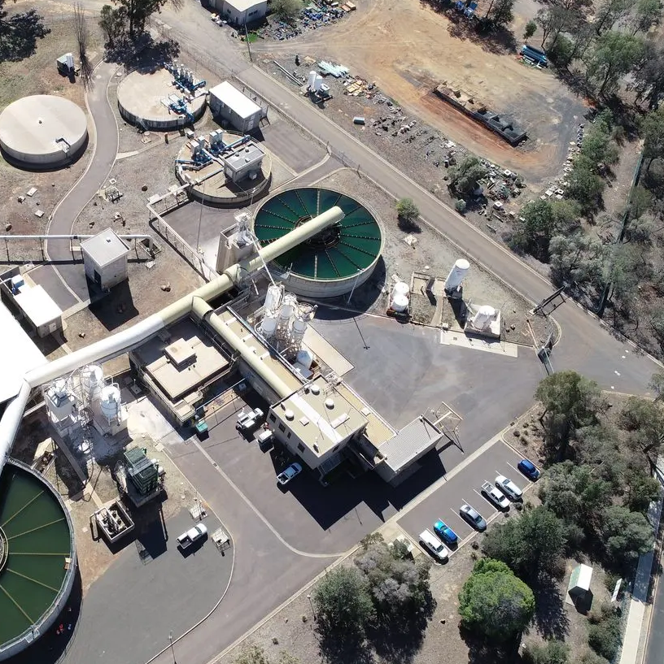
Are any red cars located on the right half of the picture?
No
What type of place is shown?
industrial area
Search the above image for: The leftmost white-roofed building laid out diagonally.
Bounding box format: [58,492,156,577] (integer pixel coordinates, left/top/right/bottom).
[0,266,62,338]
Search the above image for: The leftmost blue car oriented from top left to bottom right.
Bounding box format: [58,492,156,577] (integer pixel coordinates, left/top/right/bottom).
[429,519,463,548]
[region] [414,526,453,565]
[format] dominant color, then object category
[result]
white truck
